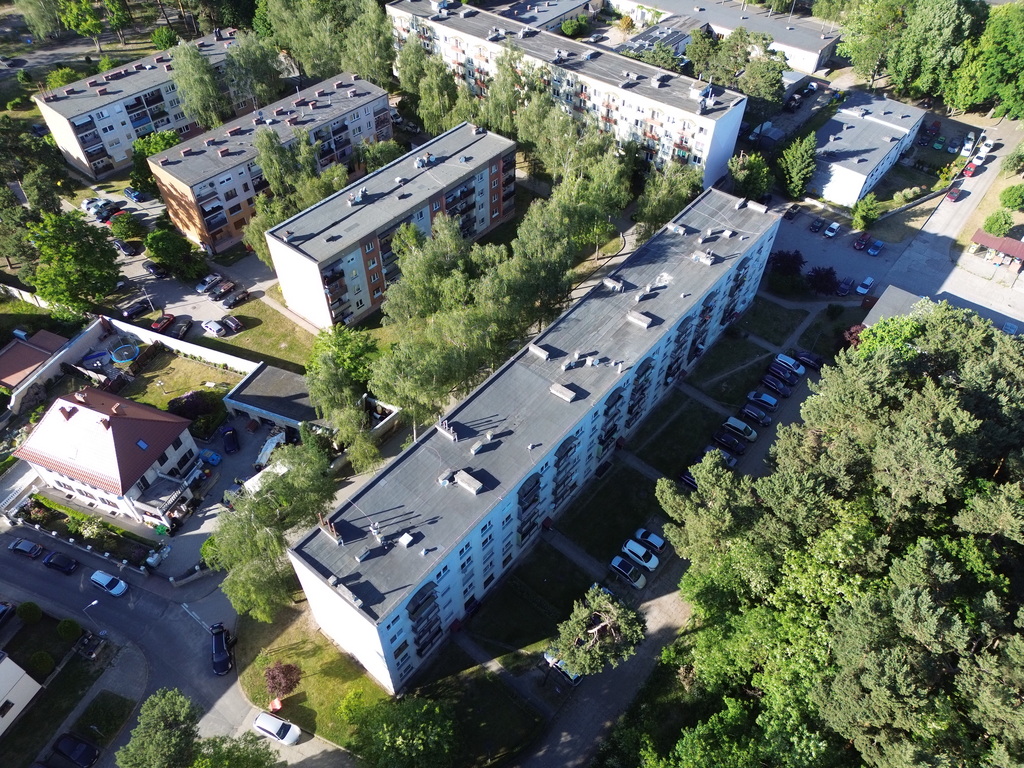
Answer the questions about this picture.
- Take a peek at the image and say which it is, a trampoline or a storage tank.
trampoline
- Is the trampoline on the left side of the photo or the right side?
left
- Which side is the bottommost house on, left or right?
left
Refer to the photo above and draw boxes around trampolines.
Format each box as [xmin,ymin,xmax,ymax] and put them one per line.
[106,335,141,365]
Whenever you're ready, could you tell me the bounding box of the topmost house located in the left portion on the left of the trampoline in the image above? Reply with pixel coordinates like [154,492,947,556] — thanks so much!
[0,326,70,399]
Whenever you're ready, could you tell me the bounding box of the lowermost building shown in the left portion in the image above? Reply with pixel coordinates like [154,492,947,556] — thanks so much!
[0,643,42,731]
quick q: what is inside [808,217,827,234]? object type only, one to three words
car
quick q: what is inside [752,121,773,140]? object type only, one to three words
vehicle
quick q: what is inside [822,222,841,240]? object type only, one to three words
car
